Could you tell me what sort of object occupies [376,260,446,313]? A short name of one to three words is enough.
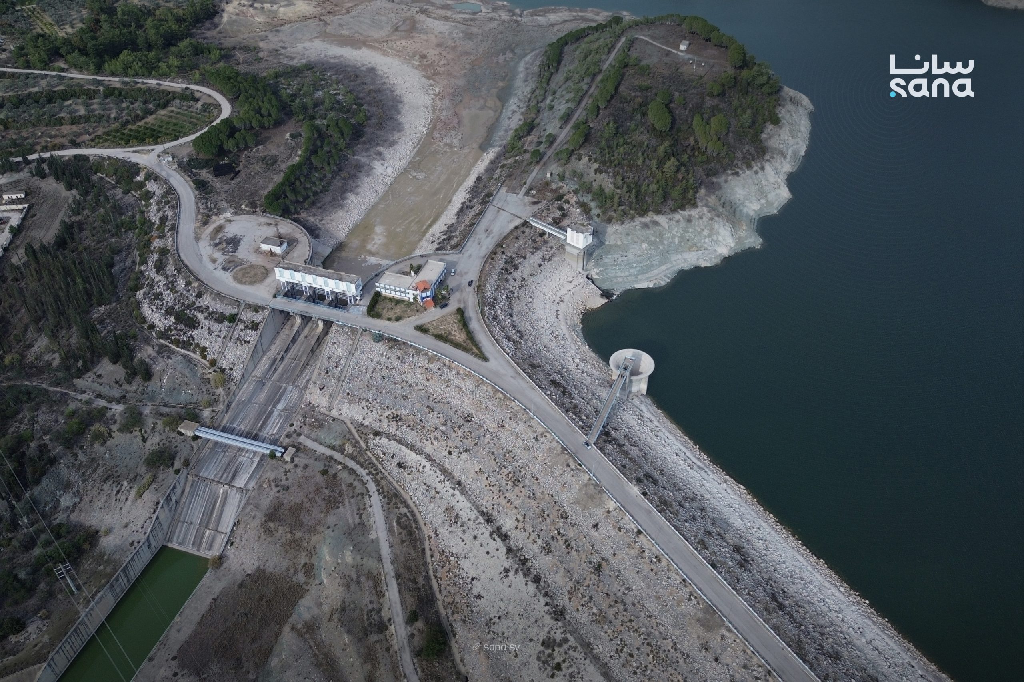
building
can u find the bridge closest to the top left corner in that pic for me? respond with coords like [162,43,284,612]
[265,297,346,338]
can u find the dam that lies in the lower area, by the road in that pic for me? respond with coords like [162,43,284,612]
[303,199,823,682]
